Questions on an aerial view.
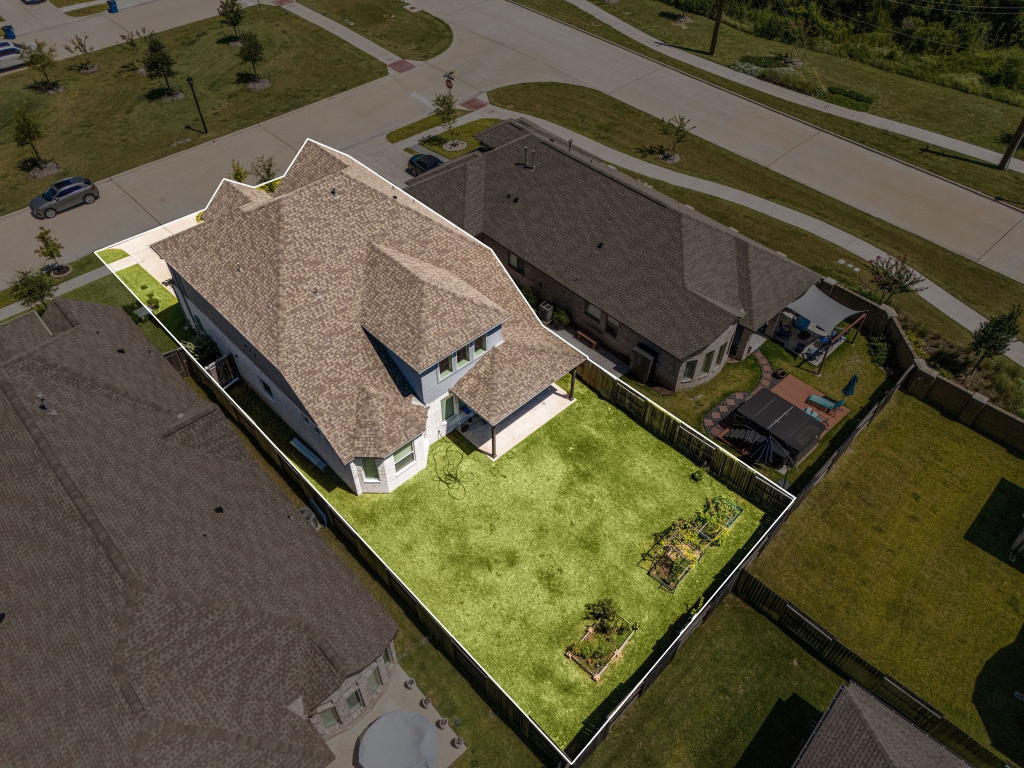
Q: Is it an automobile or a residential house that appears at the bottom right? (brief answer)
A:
residential house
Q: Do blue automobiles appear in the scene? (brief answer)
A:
No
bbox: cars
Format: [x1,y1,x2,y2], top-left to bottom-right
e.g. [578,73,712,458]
[407,149,449,174]
[0,56,21,72]
[27,174,99,219]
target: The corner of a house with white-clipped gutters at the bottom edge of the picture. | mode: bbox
[779,679,964,768]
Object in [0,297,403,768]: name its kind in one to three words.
house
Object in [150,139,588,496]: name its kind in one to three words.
house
